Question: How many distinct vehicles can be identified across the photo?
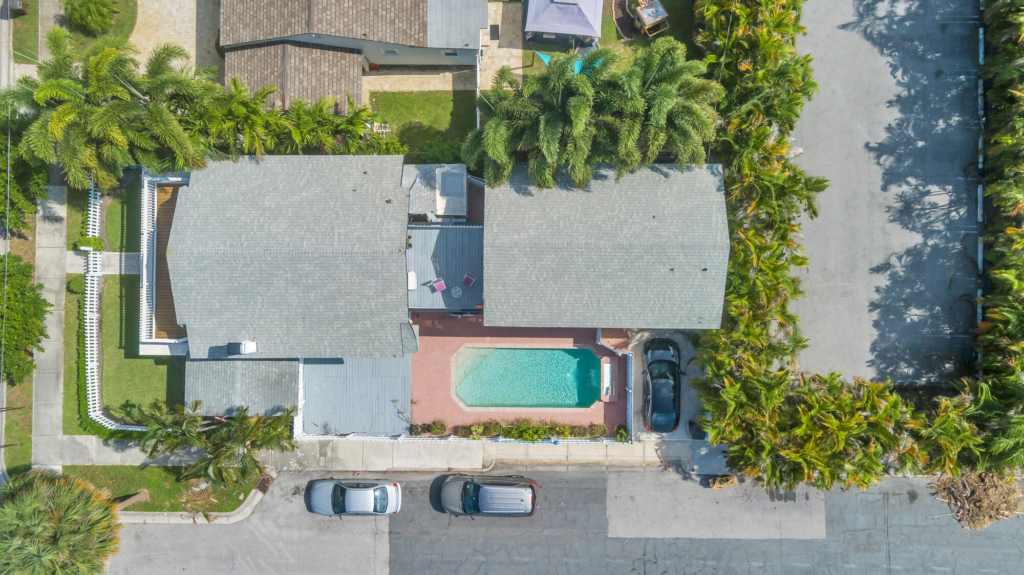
3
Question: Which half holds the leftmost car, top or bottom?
bottom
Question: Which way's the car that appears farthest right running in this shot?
vertically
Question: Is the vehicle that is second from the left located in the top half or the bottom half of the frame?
bottom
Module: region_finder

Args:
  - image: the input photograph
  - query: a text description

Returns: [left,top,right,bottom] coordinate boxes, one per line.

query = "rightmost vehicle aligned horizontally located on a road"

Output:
[440,470,538,517]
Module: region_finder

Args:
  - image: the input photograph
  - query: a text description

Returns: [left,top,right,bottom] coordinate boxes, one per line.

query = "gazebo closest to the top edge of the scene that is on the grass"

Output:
[524,0,601,50]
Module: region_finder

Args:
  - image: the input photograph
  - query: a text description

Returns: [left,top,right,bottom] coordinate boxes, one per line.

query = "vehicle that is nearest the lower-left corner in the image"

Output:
[311,475,403,518]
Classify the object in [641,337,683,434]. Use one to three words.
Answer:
car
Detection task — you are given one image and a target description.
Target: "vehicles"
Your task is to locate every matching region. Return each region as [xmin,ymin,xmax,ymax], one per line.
[440,470,538,517]
[641,337,683,434]
[311,475,403,518]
